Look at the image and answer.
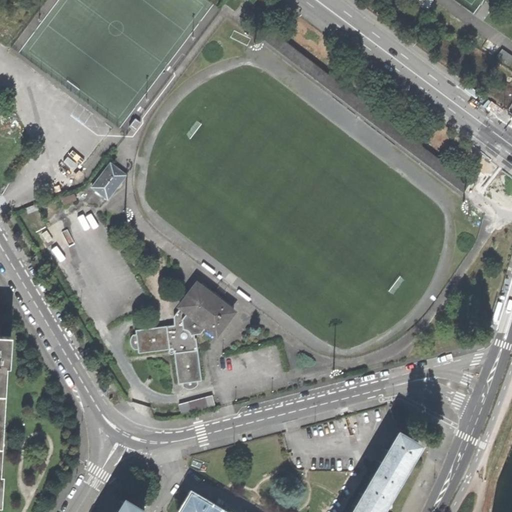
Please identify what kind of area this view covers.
sports ground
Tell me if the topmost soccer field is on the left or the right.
left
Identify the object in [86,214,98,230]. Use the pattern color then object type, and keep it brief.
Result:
white vehicle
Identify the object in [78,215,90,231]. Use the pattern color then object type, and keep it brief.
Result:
white vehicle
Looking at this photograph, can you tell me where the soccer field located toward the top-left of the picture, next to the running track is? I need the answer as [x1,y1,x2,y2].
[19,0,215,128]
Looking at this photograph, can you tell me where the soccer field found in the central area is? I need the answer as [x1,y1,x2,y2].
[145,66,446,348]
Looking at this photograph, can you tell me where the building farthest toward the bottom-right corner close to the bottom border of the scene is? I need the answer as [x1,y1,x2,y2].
[341,430,426,512]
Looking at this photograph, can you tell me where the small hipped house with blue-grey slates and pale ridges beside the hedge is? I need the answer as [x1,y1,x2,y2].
[91,163,126,201]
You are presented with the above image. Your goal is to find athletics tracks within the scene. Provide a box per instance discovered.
[134,48,456,356]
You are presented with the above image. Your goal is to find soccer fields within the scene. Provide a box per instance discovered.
[145,66,446,348]
[19,0,215,128]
